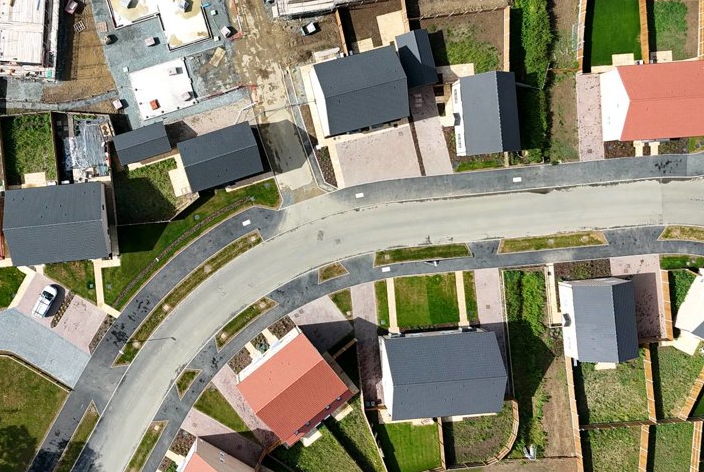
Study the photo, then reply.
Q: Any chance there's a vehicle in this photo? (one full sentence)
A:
Yes, there is a vehicle in the image.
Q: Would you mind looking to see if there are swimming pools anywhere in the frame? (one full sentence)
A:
No, I can see no swimming pool in this picture.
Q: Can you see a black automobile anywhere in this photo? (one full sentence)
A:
No, no black automobile is visible in the view.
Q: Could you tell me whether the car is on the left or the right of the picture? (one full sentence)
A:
You can find the car on the left side of the picture.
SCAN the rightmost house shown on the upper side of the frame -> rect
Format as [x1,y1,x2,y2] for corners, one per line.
[600,60,704,142]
